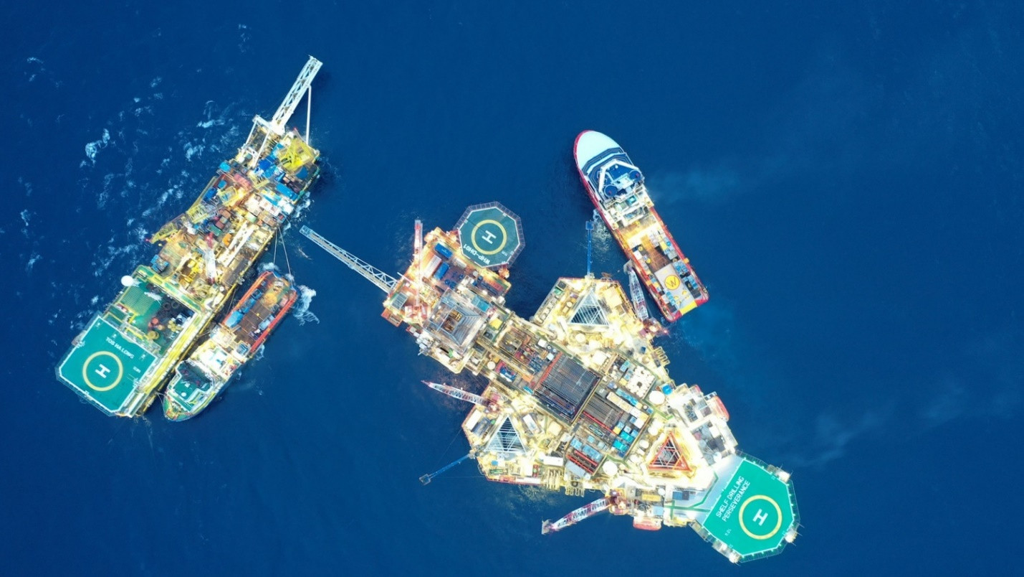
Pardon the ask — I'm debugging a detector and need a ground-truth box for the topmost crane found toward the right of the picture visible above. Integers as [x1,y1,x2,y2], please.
[628,266,660,334]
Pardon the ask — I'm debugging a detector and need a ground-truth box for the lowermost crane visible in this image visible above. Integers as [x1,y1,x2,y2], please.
[551,485,633,529]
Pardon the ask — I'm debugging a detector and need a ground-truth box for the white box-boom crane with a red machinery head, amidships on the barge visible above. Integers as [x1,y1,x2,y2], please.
[199,233,217,284]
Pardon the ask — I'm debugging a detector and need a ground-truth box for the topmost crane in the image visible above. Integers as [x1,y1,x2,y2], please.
[279,127,317,172]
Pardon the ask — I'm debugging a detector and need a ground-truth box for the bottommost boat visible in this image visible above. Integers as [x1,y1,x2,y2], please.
[633,513,660,528]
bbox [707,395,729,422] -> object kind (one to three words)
boat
